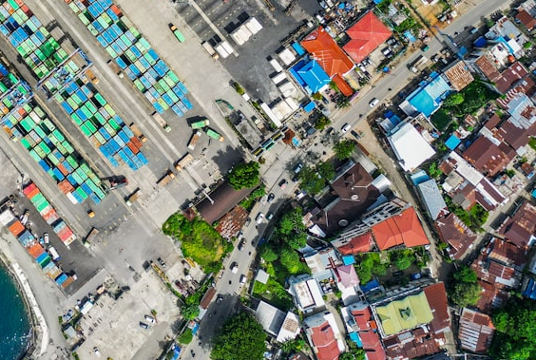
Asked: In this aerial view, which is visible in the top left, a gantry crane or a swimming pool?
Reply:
gantry crane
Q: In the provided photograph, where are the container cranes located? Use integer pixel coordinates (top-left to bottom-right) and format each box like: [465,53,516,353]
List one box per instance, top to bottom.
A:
[34,44,91,100]
[0,75,33,124]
